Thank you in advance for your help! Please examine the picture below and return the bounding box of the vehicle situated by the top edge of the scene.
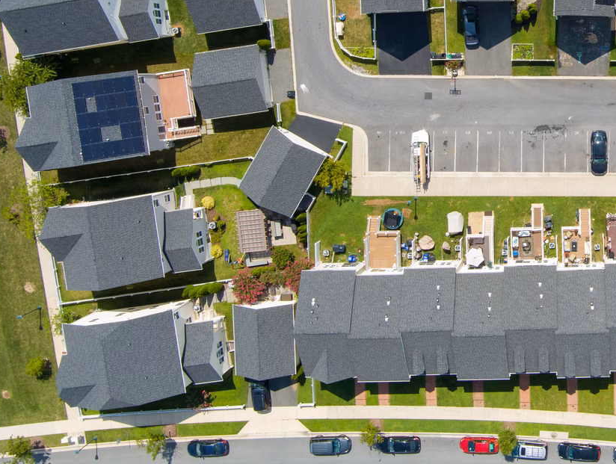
[461,5,481,47]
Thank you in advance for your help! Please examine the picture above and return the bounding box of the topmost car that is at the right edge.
[589,130,609,173]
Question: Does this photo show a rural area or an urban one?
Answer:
urban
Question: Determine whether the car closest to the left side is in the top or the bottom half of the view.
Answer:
bottom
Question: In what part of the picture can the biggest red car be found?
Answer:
bottom right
